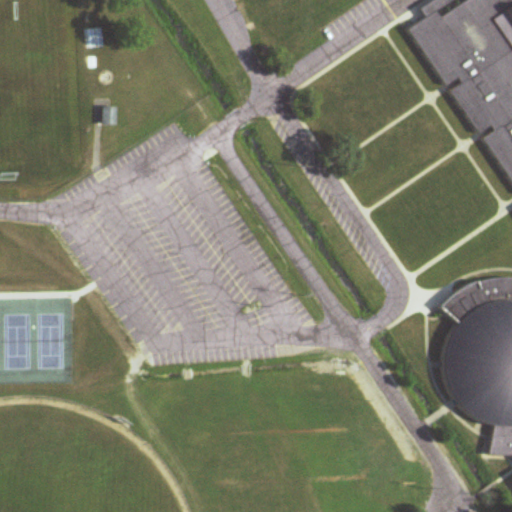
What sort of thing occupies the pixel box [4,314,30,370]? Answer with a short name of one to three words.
tennis court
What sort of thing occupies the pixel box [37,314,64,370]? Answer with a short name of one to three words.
tennis court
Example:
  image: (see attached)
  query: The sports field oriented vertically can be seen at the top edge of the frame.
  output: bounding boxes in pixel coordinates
[0,0,78,196]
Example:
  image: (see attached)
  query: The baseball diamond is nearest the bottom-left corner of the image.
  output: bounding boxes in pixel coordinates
[0,398,188,512]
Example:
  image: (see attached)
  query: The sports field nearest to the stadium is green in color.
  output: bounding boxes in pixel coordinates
[143,376,424,512]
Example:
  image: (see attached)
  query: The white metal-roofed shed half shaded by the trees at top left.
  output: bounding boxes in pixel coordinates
[84,28,102,48]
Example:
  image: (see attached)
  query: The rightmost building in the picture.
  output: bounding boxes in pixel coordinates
[410,0,512,180]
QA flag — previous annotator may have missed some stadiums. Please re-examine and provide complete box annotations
[442,276,512,456]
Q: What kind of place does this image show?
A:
sports ground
